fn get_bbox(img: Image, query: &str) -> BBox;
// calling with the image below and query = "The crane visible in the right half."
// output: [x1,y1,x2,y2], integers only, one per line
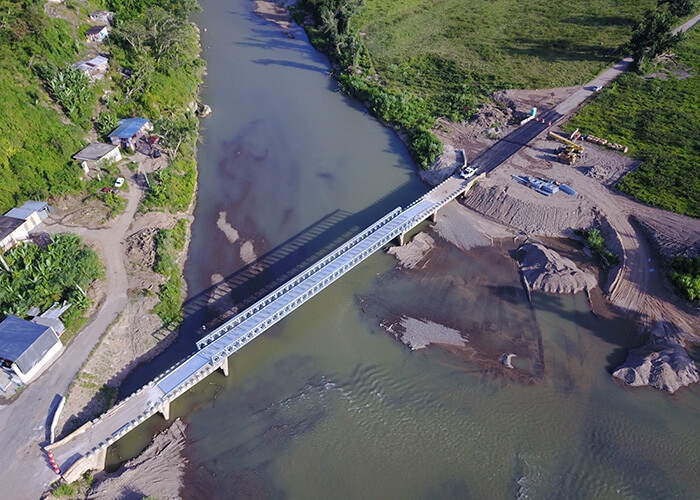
[539,133,587,168]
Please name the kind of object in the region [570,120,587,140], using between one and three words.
vehicle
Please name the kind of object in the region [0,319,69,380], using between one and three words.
house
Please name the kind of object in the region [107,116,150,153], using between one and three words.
house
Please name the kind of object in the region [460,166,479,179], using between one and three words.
vehicle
